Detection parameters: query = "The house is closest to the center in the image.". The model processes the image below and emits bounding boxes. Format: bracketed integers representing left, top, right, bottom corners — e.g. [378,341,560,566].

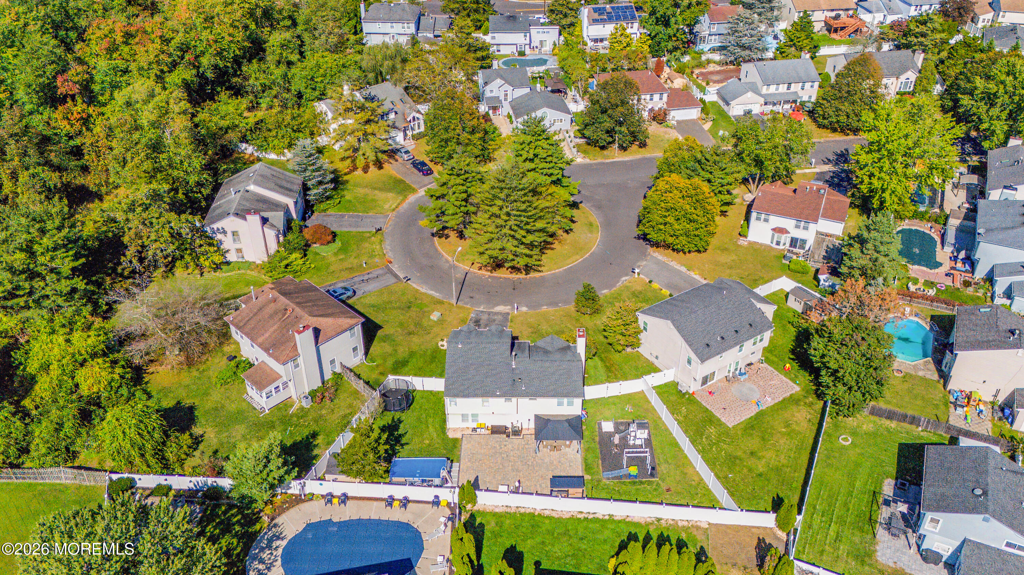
[444,322,588,429]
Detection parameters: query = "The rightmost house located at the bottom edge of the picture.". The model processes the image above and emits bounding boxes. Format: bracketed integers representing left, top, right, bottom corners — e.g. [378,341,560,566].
[910,445,1024,575]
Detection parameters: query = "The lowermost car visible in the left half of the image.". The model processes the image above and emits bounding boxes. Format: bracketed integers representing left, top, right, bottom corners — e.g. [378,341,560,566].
[329,284,358,301]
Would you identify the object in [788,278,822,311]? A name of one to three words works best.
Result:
shed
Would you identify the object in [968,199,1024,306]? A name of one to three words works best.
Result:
house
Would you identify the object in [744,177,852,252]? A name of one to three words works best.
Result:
house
